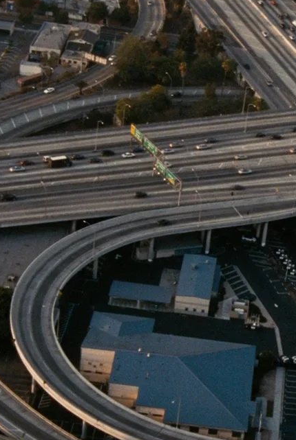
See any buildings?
Yes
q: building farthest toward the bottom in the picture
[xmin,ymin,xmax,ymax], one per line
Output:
[81,312,263,440]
